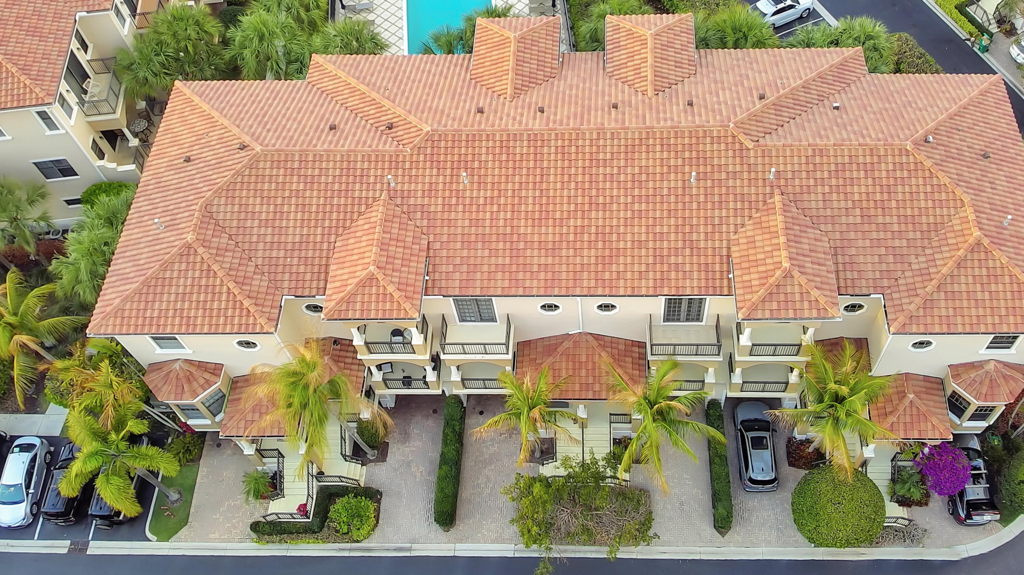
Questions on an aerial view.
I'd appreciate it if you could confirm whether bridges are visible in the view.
No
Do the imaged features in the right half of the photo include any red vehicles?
No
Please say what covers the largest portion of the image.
buildings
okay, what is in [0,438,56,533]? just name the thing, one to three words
car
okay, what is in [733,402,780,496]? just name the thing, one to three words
car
